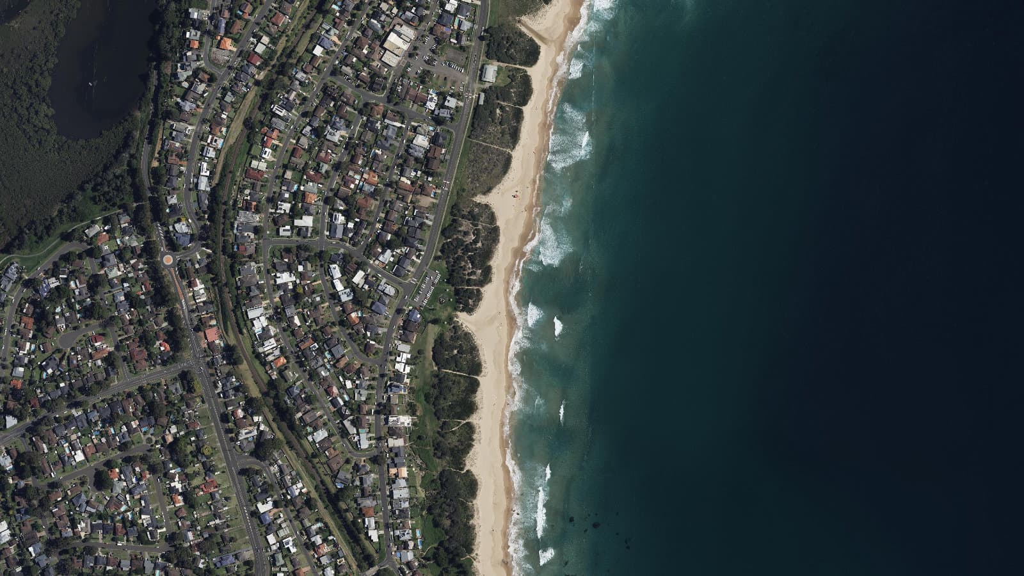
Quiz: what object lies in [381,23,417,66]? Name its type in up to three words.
building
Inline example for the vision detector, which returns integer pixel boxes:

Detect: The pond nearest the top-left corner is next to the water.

[50,0,155,139]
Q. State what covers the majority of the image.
water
